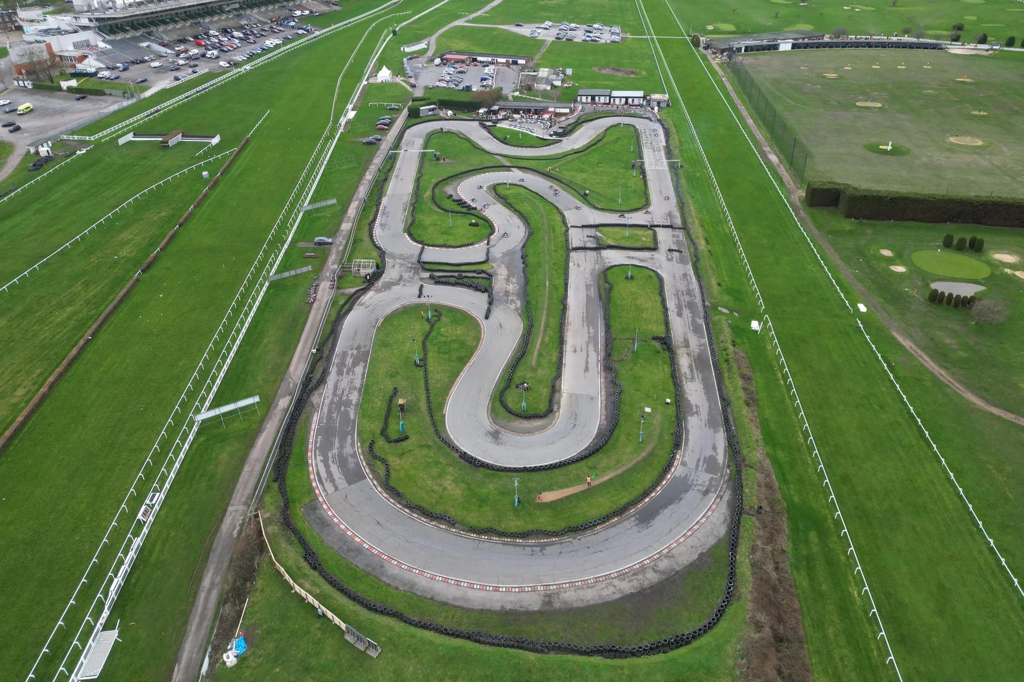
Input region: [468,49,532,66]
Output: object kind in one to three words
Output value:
building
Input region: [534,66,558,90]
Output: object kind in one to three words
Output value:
shed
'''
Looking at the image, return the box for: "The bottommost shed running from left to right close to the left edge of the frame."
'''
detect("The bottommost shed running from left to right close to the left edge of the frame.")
[13,134,52,154]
